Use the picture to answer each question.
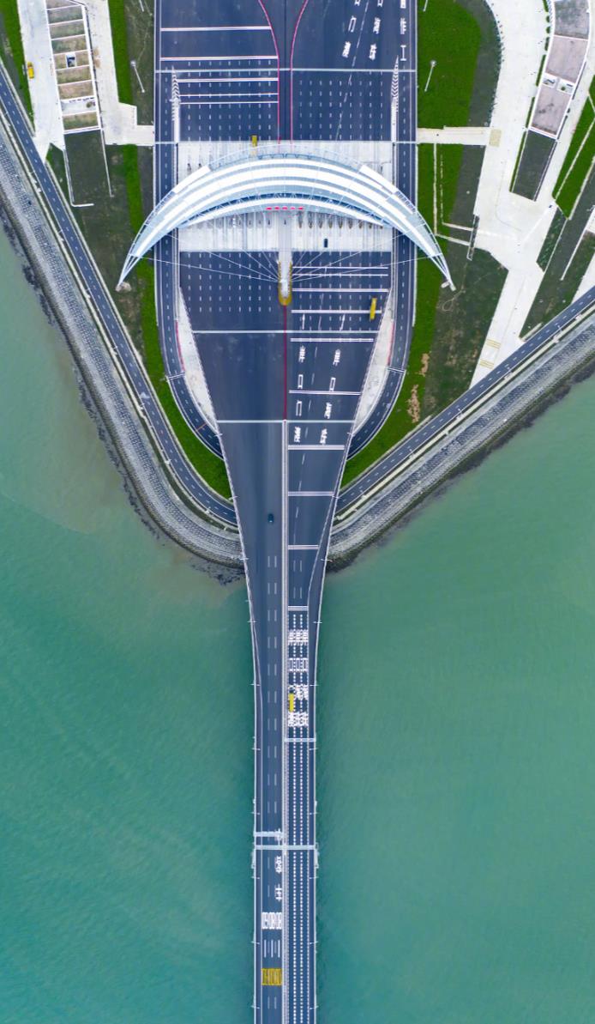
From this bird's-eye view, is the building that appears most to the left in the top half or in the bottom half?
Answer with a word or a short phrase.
top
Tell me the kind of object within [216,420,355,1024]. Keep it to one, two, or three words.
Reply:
bridge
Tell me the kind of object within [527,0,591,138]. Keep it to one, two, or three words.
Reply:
building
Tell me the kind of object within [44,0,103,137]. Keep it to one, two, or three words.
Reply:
building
